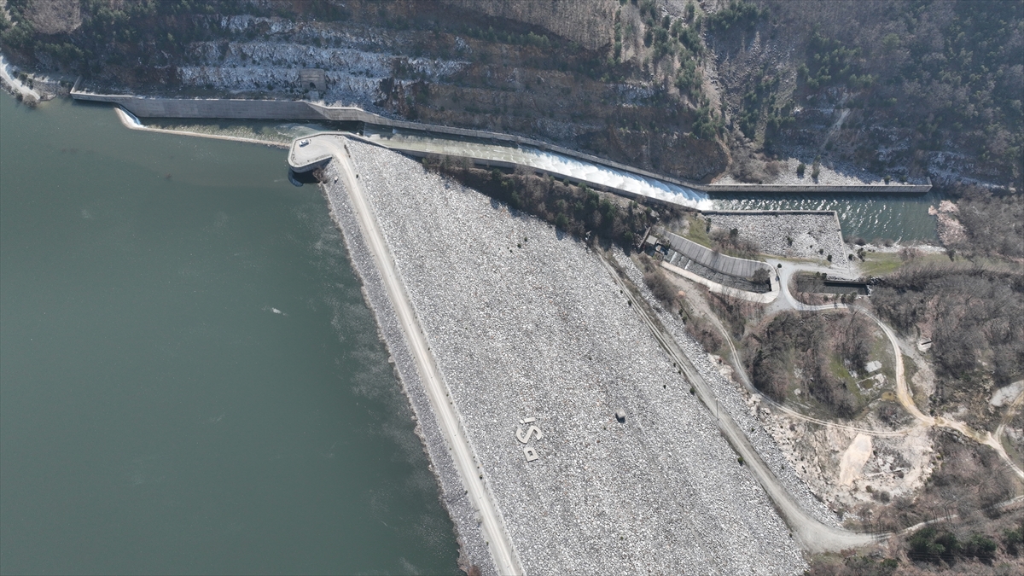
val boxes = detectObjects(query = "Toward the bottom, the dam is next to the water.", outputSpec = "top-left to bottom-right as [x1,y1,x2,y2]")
[321,136,820,576]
